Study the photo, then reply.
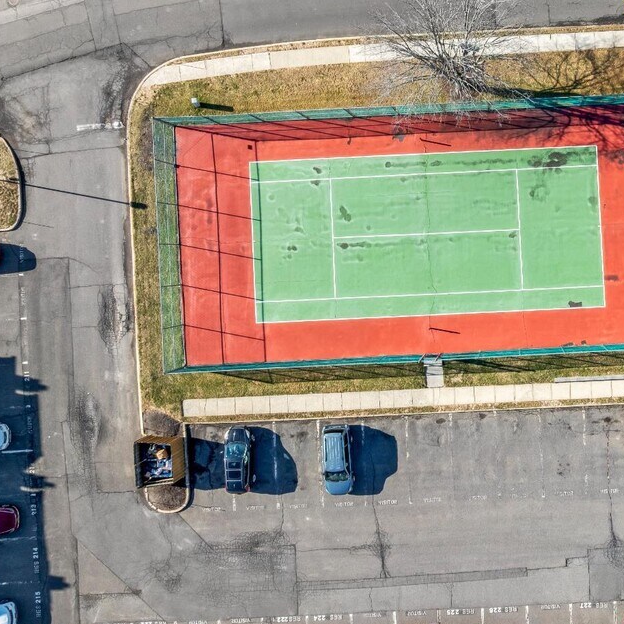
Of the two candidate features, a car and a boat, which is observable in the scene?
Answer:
car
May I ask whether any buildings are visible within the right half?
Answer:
No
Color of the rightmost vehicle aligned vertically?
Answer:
blue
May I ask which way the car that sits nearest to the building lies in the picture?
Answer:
vertically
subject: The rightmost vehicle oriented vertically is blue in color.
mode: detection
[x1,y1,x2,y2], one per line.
[319,423,354,495]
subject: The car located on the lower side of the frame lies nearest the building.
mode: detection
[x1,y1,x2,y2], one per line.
[219,424,255,495]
